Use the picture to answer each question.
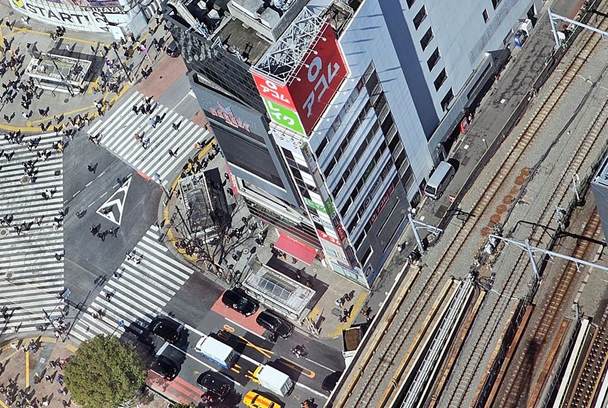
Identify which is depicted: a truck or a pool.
truck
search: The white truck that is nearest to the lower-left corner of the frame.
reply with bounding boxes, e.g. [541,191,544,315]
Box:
[193,333,238,369]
